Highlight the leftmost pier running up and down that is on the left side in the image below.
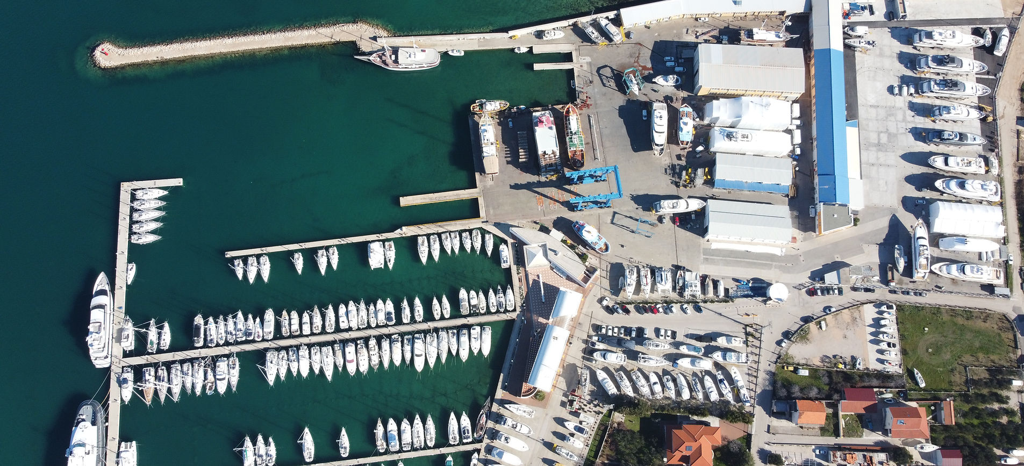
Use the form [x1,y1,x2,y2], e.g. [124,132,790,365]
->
[106,178,184,466]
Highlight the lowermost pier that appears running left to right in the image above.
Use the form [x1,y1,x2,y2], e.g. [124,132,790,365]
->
[300,443,482,466]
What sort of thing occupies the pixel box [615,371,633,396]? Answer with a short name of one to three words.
boat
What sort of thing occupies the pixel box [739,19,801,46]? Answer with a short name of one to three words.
ship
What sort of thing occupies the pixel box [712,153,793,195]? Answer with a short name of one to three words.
shed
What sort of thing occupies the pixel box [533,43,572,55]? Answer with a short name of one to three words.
pier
